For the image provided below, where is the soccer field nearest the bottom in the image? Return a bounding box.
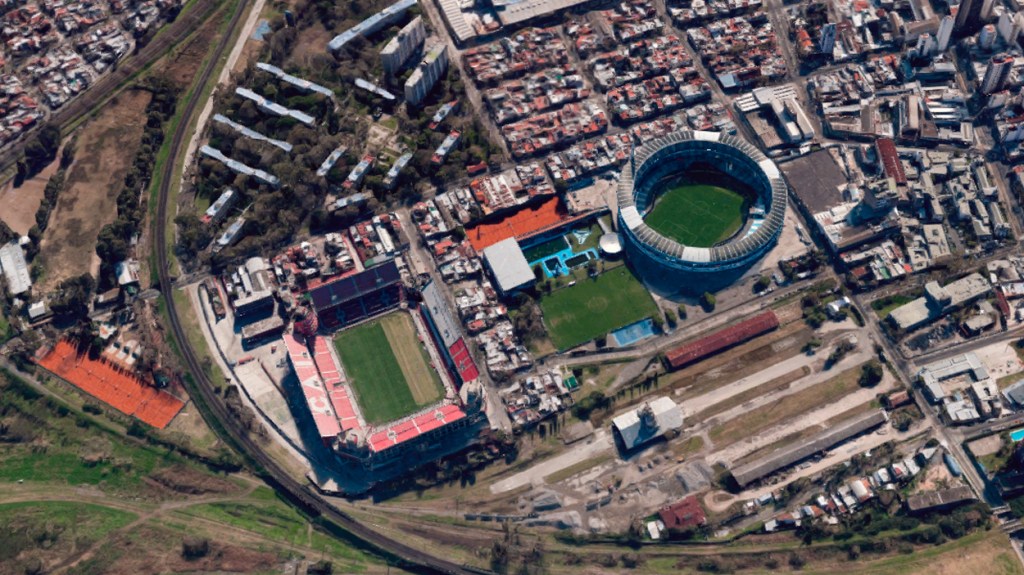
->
[333,310,444,425]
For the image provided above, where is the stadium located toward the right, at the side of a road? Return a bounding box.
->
[617,131,787,277]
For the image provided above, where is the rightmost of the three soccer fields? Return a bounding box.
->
[648,167,750,246]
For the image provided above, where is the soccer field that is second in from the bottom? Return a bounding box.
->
[542,262,660,351]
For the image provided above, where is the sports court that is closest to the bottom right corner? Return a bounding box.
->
[612,318,655,346]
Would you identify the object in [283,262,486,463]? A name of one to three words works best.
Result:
stadium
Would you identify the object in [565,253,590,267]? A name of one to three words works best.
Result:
swimming pool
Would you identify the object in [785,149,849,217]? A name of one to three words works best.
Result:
building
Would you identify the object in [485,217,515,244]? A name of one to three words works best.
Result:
tennis court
